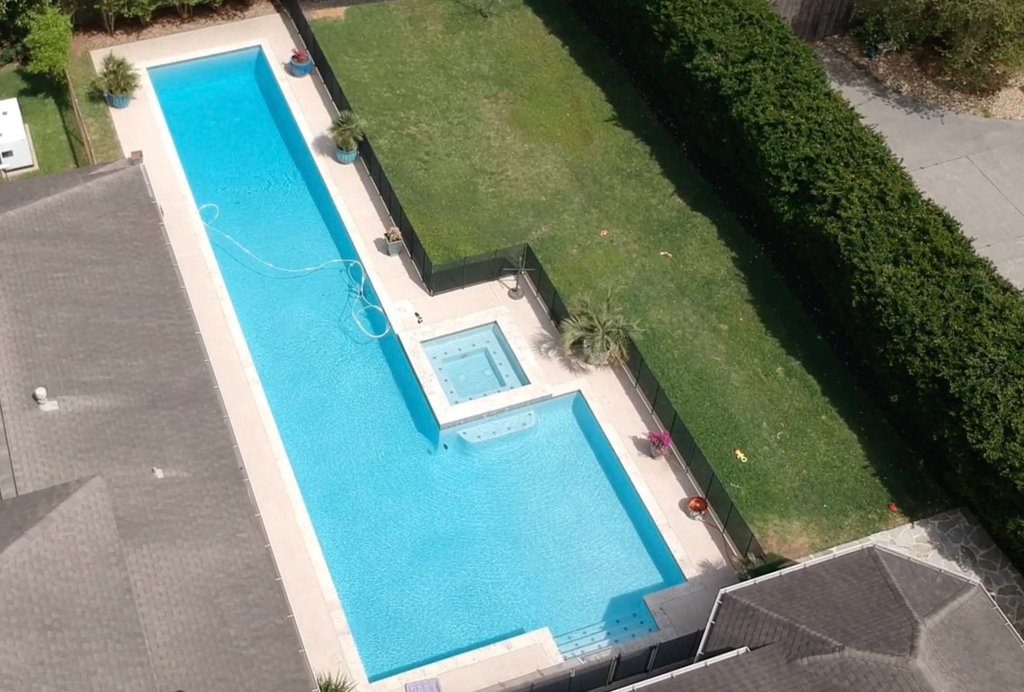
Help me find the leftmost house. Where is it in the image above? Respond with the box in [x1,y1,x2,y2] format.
[0,157,321,692]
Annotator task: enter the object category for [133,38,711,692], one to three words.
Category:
swimming pool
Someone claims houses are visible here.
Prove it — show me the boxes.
[0,157,321,692]
[607,538,1024,692]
